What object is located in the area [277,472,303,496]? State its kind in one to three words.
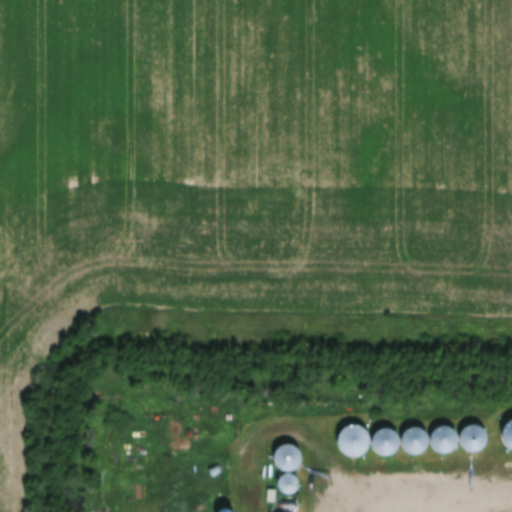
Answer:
silo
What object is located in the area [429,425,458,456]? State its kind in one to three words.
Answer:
silo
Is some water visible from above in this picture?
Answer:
No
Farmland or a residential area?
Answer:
farmland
